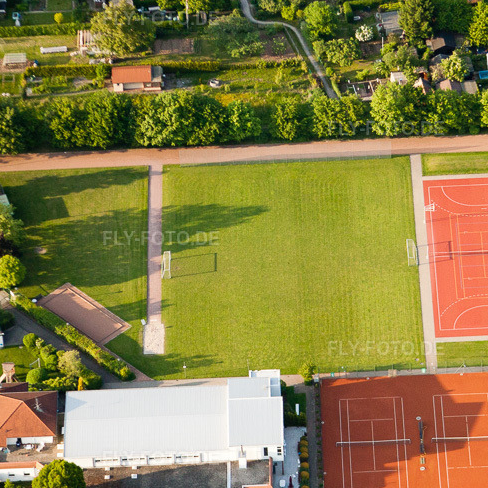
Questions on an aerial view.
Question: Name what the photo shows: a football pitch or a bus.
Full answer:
This aerial view contains a football pitch.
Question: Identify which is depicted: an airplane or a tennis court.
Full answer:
The image shows a tennis court.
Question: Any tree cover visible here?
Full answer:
Yes, there is tree cover in the image.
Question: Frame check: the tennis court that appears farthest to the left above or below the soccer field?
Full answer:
Relative to the soccer field, the tennis court that appears farthest to the left lies below it.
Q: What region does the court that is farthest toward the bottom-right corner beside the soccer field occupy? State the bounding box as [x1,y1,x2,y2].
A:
[428,389,488,488]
